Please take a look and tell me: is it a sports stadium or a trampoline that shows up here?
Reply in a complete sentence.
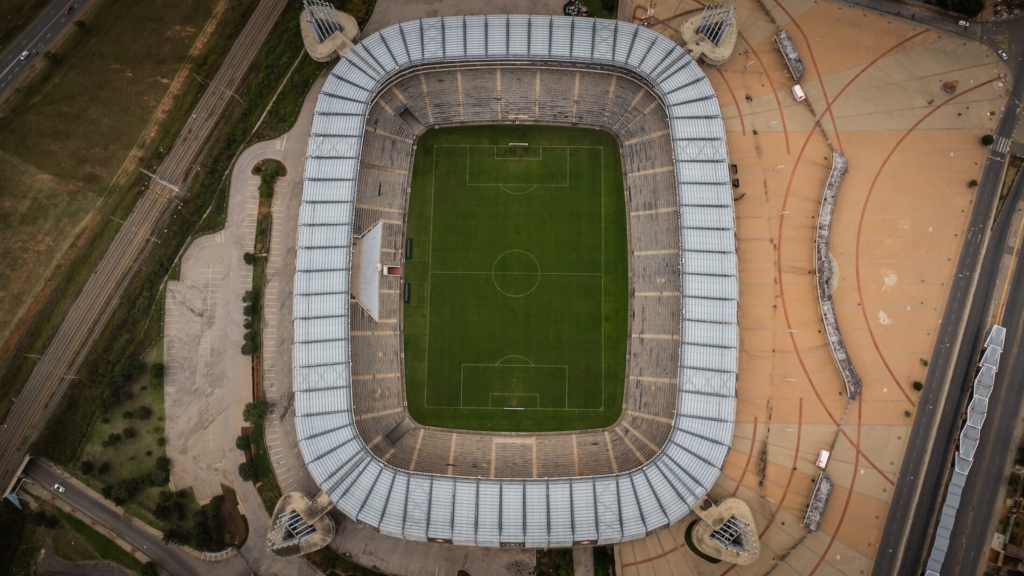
Visible in the photo is a sports stadium.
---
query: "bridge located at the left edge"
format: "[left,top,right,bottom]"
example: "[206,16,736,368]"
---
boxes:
[0,436,44,509]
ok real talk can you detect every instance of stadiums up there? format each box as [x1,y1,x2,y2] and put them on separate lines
[290,12,742,548]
